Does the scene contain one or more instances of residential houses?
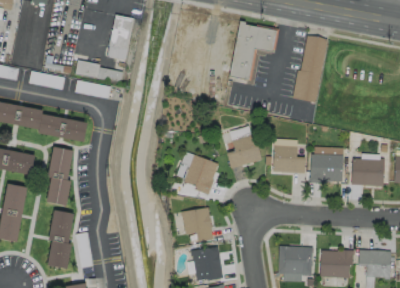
Yes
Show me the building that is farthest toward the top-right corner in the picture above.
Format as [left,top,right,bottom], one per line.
[294,35,328,102]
